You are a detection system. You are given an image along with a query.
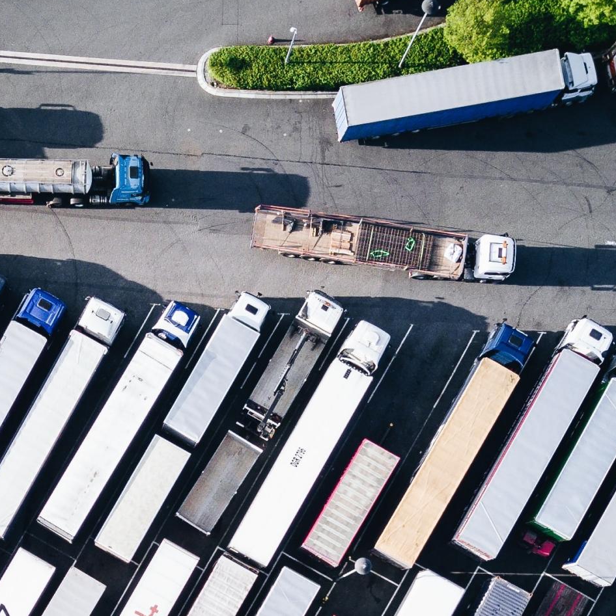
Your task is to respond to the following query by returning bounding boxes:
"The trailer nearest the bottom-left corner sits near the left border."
[0,548,56,616]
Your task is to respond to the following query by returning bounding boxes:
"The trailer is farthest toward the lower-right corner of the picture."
[536,582,588,616]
